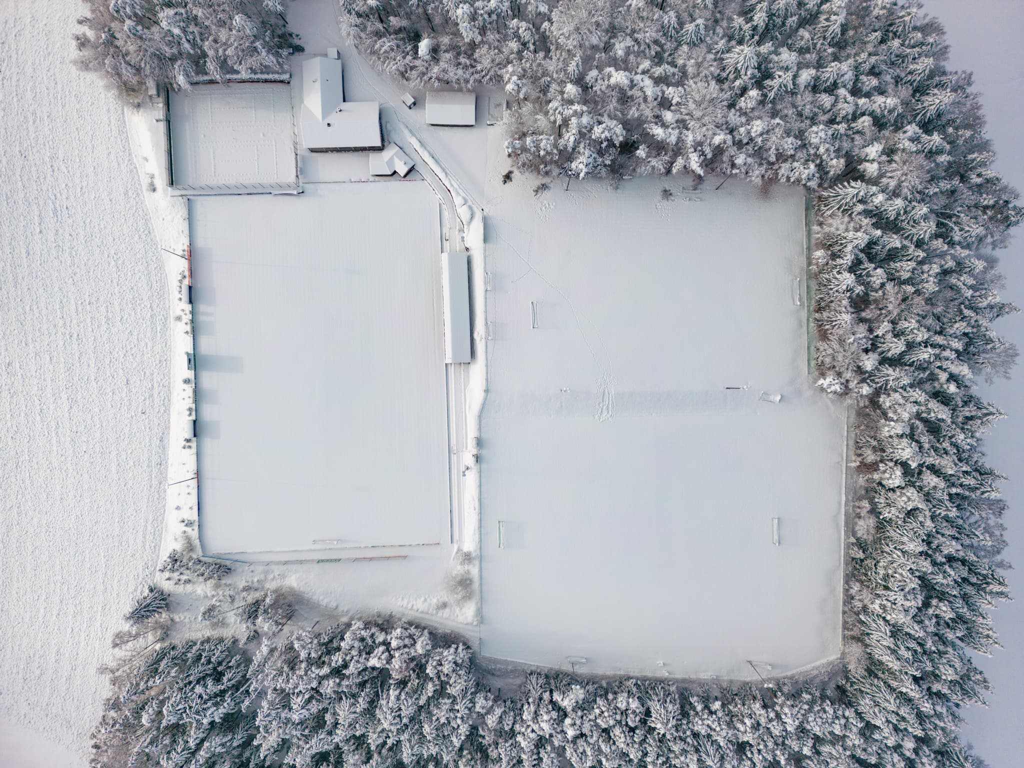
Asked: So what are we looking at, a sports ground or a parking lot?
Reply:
sports ground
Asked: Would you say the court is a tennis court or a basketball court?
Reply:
tennis court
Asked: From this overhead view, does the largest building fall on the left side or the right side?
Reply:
left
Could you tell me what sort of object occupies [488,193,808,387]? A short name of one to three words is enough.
sports field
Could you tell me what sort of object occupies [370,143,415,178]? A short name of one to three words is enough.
house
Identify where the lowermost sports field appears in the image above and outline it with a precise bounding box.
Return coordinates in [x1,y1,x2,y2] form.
[482,421,844,677]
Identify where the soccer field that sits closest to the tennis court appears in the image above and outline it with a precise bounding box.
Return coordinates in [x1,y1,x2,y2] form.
[191,183,451,554]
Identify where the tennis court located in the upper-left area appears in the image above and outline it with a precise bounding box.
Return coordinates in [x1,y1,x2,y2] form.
[171,83,300,190]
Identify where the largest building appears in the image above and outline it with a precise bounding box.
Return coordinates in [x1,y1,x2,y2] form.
[301,57,383,154]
